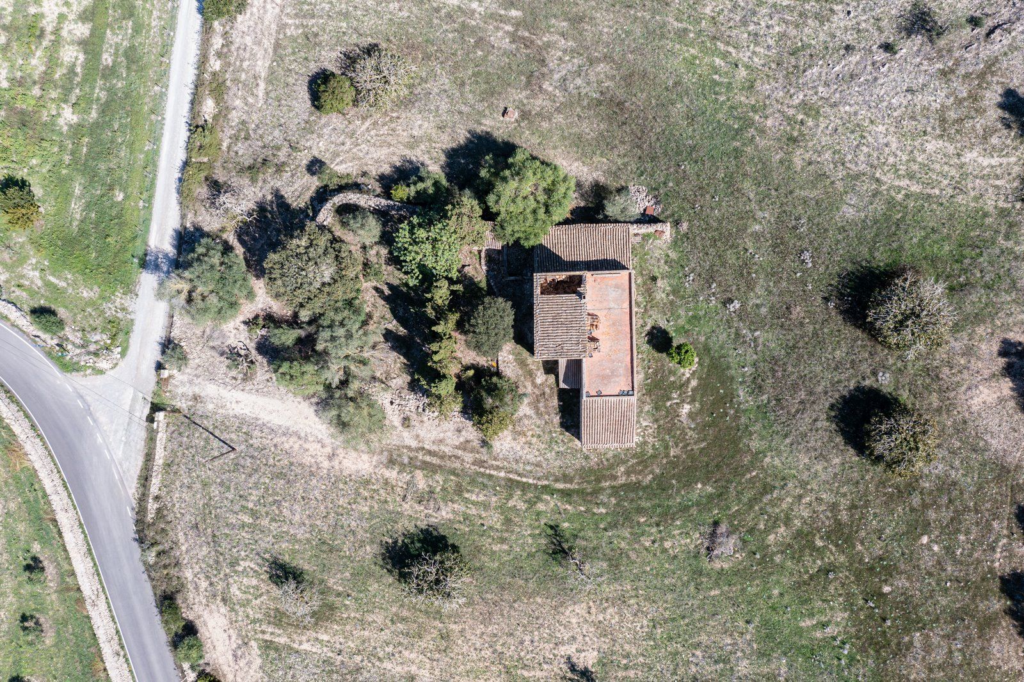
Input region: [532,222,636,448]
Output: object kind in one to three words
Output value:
house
